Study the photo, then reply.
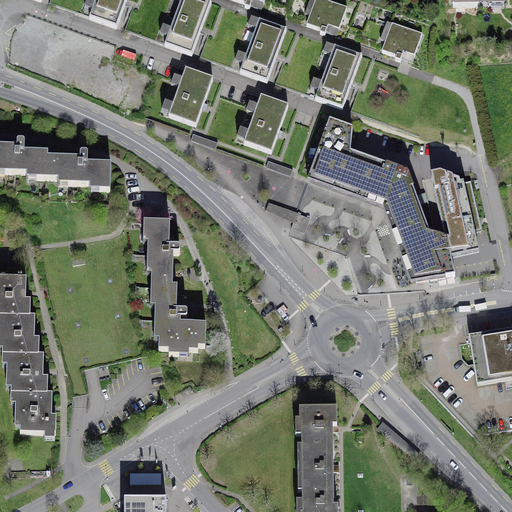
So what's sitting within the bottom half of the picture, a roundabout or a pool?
roundabout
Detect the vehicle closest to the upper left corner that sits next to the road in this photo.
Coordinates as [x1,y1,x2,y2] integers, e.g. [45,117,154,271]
[116,48,138,61]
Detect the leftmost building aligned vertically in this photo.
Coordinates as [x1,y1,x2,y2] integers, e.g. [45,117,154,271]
[0,274,58,444]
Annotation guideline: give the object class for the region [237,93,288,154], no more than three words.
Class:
house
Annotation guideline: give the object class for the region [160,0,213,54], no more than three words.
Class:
house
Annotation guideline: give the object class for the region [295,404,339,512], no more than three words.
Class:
building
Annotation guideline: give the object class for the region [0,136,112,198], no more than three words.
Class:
building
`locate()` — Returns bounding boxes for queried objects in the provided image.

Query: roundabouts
[292,302,382,378]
